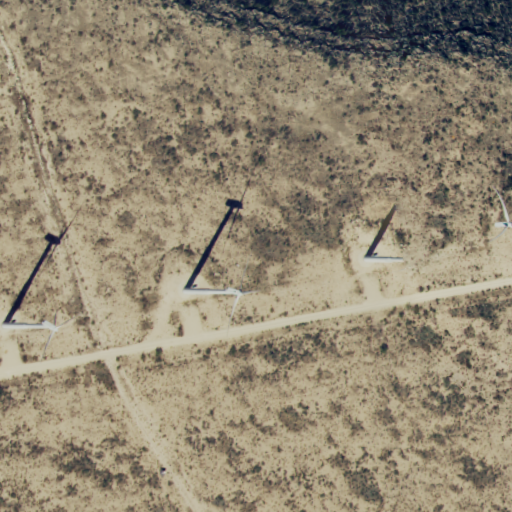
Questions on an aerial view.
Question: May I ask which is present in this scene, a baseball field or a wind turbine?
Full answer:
The image shows a wind turbine.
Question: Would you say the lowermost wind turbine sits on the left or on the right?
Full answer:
You can find the lowermost wind turbine on the left side of the picture.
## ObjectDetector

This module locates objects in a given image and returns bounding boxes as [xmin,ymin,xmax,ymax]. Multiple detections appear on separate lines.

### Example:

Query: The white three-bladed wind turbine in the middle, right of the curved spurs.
[180,277,256,328]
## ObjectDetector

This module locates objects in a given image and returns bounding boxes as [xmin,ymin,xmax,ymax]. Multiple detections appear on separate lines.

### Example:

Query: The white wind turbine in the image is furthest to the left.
[0,309,74,366]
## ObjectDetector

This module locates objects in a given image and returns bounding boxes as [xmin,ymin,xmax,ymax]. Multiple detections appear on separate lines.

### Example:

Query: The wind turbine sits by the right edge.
[486,190,512,246]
